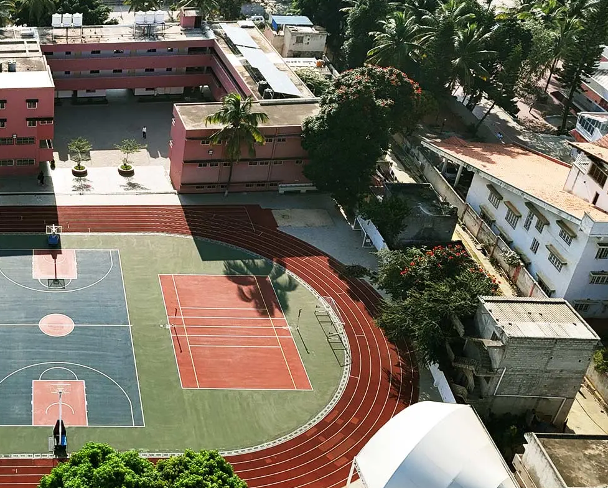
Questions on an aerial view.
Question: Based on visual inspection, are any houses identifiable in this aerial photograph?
Yes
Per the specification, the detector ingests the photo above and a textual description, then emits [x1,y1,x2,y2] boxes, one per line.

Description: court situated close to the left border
[0,249,145,426]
